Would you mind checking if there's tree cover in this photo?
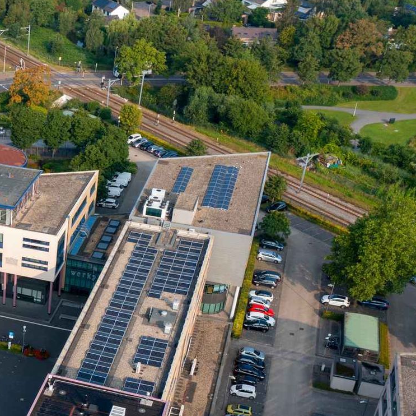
Yes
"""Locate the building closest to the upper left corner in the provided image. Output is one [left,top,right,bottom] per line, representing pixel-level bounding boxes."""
[82,0,125,21]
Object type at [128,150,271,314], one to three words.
building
